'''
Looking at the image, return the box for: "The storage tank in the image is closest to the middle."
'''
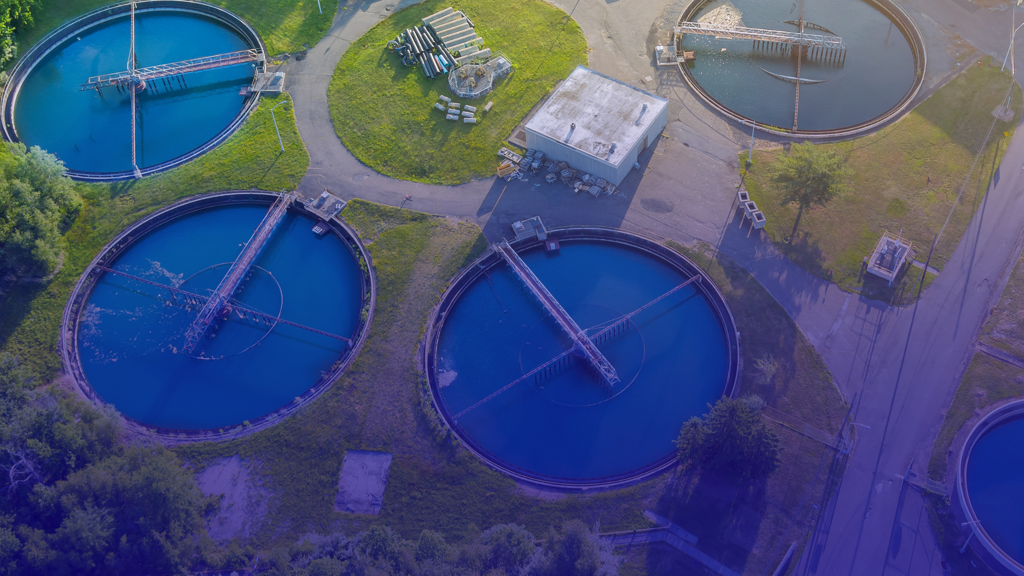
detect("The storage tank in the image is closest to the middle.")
[425,223,741,490]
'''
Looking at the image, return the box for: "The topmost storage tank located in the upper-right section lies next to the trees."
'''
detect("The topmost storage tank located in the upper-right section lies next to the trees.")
[667,0,927,141]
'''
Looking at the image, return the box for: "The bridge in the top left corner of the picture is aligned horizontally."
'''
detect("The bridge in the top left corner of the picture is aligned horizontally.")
[82,45,274,95]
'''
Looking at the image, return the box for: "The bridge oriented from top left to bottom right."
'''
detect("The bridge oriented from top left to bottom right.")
[490,231,621,390]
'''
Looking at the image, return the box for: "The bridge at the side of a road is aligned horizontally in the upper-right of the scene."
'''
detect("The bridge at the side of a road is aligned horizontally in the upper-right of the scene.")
[667,18,852,56]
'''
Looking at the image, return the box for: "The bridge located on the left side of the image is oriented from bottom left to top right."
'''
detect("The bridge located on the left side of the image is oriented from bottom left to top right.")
[185,182,302,351]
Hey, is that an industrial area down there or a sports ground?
industrial area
